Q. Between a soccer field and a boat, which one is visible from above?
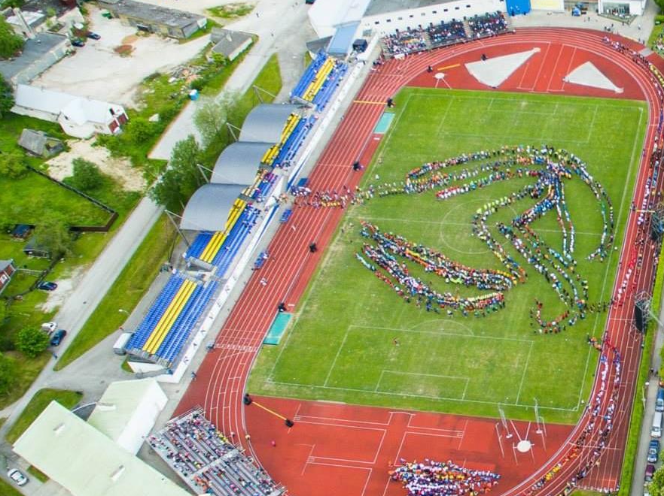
soccer field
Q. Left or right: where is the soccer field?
right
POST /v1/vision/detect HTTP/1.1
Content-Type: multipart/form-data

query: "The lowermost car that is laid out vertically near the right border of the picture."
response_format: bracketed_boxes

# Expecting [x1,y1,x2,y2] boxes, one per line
[643,461,656,482]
